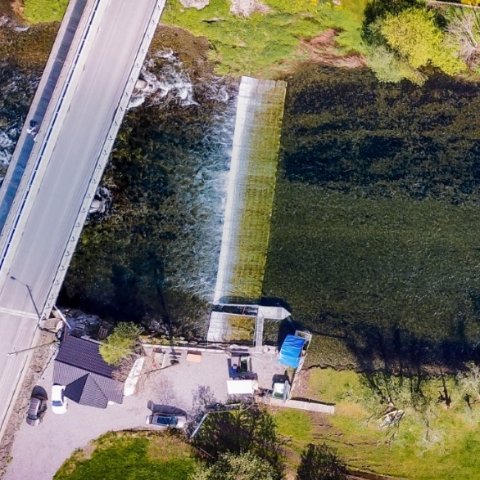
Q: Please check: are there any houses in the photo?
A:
Yes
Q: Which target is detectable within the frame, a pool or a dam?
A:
dam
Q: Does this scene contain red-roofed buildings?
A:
No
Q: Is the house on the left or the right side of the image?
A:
left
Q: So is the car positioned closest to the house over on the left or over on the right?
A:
left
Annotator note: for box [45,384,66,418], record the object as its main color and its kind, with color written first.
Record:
white car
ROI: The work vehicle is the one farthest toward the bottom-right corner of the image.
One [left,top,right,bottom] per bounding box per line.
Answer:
[269,380,288,405]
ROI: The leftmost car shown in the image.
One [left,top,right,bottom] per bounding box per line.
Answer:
[21,398,44,430]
